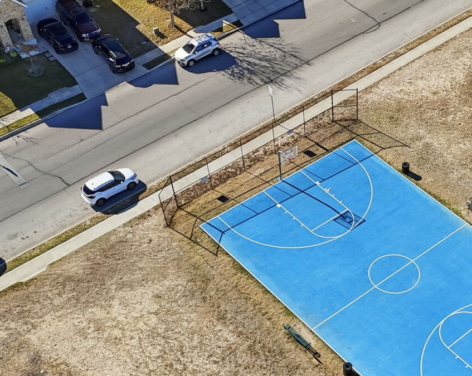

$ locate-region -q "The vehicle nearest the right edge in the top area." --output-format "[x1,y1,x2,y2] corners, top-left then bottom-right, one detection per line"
[173,32,221,67]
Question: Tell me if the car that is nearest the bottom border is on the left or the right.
left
